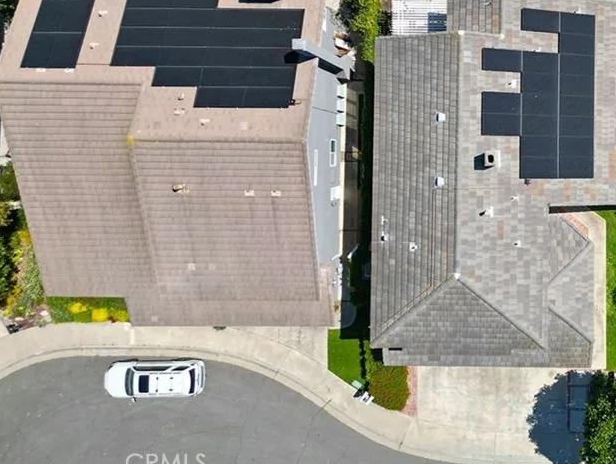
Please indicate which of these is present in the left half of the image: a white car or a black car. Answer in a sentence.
You can see a white car in the left half of the image.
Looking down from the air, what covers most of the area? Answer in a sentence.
Most of the picture is covered by buildings.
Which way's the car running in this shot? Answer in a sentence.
From this overhead view, the car appears to run from left to right.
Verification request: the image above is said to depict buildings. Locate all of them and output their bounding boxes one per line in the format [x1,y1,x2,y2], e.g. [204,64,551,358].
[0,0,350,328]
[370,0,616,368]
